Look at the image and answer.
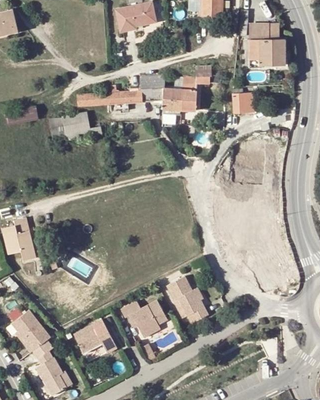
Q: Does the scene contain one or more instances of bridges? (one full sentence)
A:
No, there's no bridge here.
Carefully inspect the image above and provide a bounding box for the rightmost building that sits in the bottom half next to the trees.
[166,278,208,324]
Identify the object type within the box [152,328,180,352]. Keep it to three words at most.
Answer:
swimming pool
